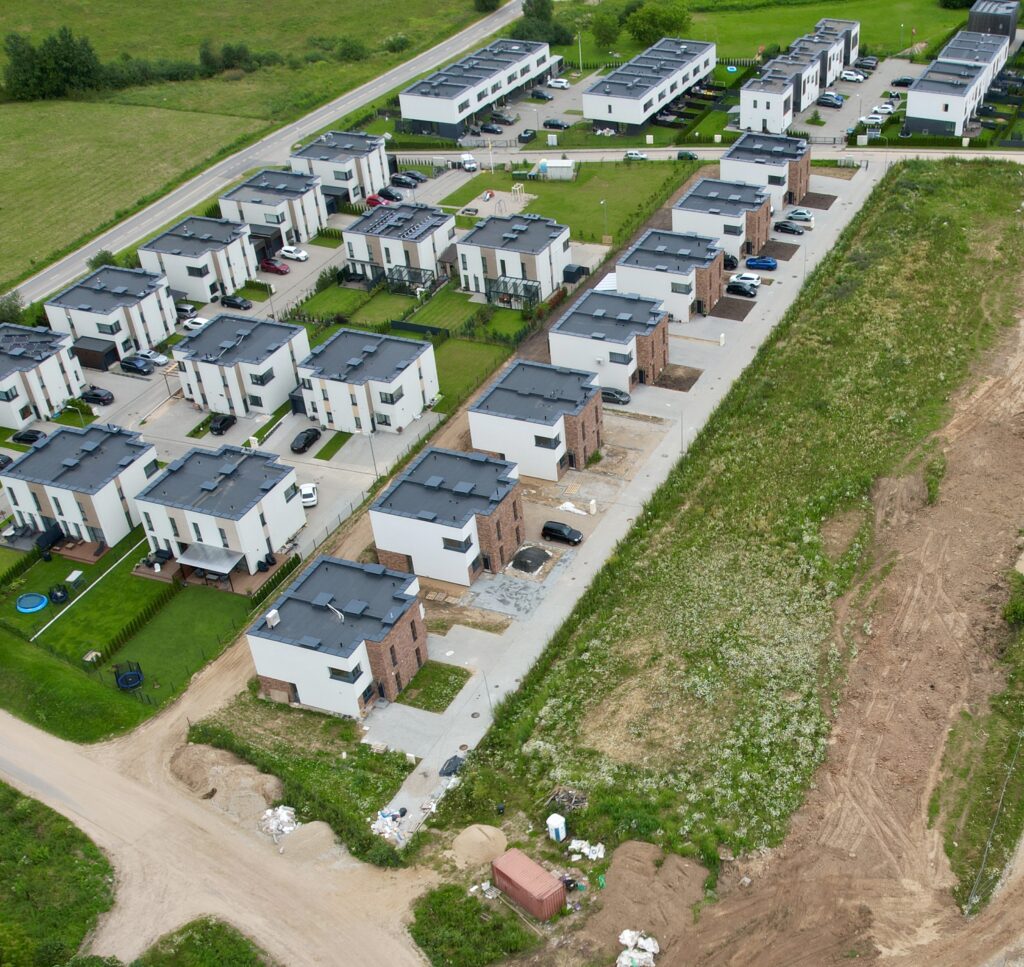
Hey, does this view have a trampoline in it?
Yes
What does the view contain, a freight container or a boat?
freight container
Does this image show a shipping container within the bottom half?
Yes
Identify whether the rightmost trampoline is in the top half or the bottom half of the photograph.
bottom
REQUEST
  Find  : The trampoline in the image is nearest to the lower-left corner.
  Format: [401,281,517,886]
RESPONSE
[108,656,143,693]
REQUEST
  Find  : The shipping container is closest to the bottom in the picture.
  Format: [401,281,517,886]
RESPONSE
[492,846,566,922]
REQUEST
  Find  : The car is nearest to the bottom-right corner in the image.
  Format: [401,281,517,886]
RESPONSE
[540,520,583,546]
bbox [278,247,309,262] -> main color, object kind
white car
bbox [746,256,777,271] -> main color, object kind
blue car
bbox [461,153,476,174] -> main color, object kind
white vehicle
